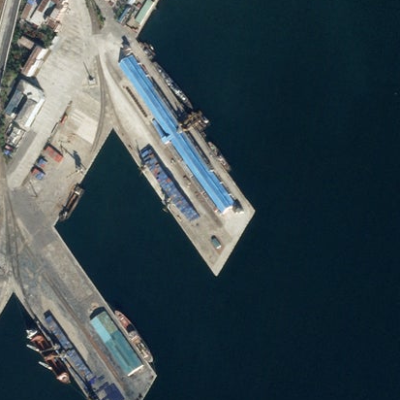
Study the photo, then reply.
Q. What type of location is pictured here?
port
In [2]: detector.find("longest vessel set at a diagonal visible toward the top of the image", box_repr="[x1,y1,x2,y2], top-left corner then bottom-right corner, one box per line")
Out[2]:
[153,63,193,109]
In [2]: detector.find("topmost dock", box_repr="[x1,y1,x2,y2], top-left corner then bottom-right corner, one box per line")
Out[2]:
[113,39,255,276]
